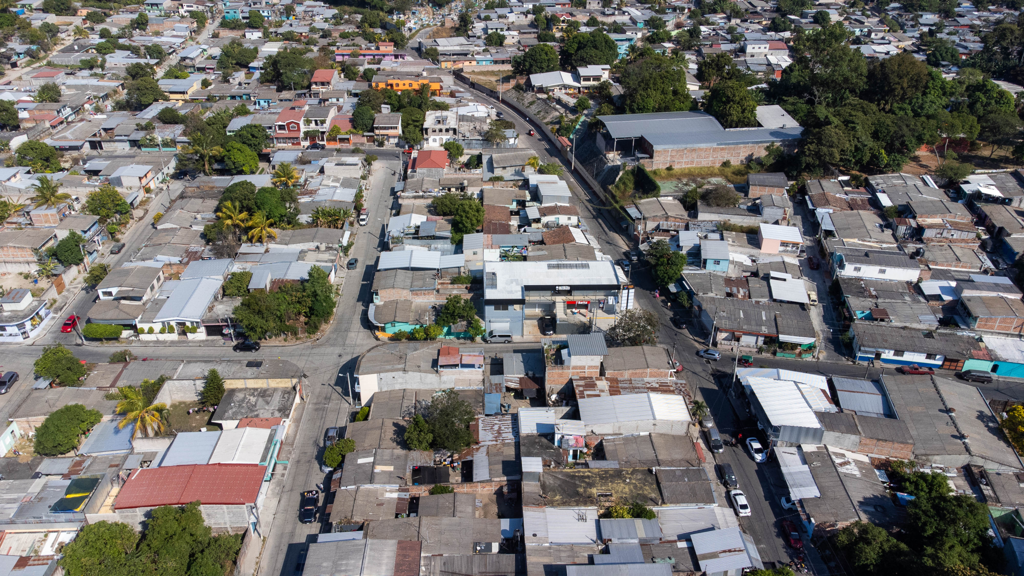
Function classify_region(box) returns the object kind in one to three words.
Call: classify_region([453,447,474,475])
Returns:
shed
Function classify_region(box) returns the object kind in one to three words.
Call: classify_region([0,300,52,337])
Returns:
house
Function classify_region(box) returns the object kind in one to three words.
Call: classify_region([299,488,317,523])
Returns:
vehicle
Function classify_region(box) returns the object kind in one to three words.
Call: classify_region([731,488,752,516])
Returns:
car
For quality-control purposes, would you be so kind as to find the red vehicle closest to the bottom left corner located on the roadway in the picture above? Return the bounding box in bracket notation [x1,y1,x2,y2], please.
[61,314,78,331]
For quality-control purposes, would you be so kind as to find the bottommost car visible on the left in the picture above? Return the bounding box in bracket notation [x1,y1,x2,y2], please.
[294,533,315,569]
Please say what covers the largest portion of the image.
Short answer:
buildings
